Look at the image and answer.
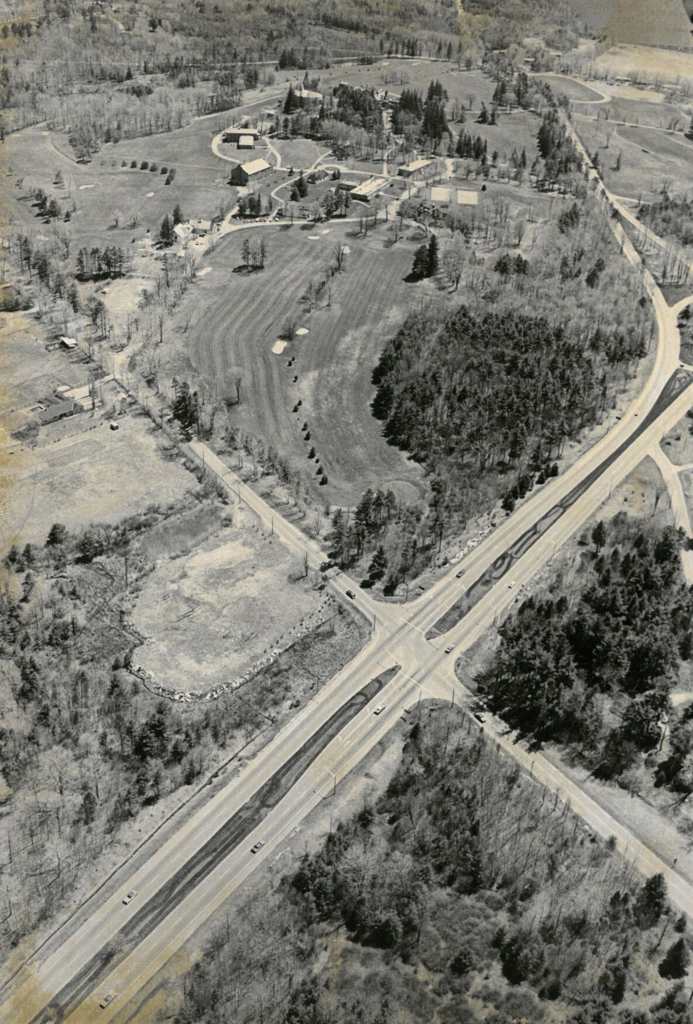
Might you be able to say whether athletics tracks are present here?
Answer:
No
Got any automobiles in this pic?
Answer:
Yes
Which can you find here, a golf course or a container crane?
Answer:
golf course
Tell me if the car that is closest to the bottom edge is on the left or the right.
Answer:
left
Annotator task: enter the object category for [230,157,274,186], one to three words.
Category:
barn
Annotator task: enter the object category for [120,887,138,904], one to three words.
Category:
car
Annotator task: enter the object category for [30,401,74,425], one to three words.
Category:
house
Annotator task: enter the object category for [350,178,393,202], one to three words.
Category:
building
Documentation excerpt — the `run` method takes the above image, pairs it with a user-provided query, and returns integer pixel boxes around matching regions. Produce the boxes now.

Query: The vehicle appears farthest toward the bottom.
[96,989,116,1009]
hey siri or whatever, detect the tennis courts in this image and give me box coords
[431,187,452,201]
[457,190,478,204]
